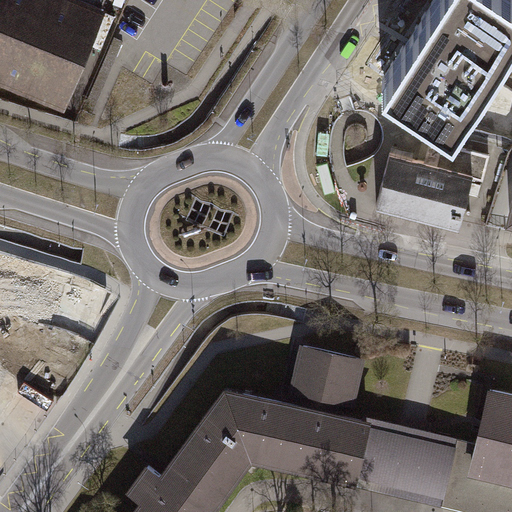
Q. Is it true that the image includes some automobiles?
Yes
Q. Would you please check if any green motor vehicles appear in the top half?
Yes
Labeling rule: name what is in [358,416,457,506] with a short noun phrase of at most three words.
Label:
building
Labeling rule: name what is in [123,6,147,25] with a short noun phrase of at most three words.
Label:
car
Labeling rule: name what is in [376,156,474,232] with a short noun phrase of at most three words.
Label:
house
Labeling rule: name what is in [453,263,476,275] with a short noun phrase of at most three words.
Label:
vehicle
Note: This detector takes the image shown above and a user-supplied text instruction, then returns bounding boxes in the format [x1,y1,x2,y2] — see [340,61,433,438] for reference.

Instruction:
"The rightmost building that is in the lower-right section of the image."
[468,386,512,487]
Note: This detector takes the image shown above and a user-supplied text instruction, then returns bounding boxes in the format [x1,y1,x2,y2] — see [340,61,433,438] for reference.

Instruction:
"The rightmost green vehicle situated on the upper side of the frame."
[340,35,358,58]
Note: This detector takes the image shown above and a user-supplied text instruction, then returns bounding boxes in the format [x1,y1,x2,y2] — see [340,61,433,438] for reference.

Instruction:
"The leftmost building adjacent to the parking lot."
[0,0,104,112]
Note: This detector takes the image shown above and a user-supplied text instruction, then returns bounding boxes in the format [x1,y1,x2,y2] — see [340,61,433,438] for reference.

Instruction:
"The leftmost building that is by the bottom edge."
[128,389,370,512]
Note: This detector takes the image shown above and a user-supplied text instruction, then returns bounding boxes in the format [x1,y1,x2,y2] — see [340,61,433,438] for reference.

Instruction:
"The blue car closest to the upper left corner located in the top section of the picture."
[118,20,138,36]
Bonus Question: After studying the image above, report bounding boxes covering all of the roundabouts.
[117,141,290,302]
